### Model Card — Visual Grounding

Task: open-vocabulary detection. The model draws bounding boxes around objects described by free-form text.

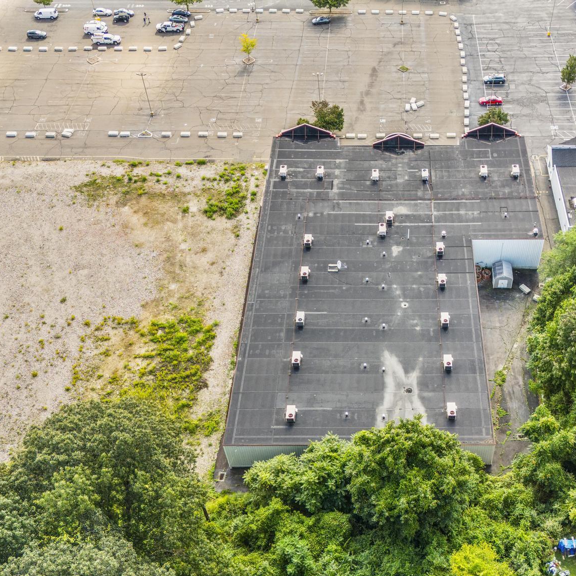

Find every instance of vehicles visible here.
[83,22,108,35]
[26,29,47,39]
[91,32,119,44]
[112,11,131,22]
[171,9,192,18]
[112,8,134,16]
[91,8,113,16]
[311,16,332,26]
[168,15,189,24]
[35,8,58,20]
[484,73,506,84]
[84,19,108,26]
[478,97,503,107]
[158,21,183,32]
